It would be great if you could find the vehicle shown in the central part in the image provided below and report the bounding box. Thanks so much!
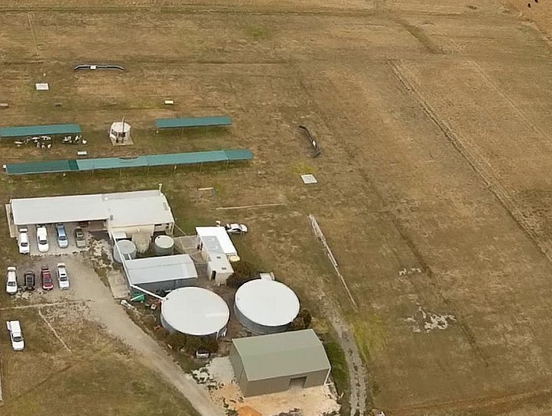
[225,221,251,234]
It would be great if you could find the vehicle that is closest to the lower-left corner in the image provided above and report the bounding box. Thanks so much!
[5,318,25,350]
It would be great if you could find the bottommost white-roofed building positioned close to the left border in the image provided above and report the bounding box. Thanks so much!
[8,183,178,238]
